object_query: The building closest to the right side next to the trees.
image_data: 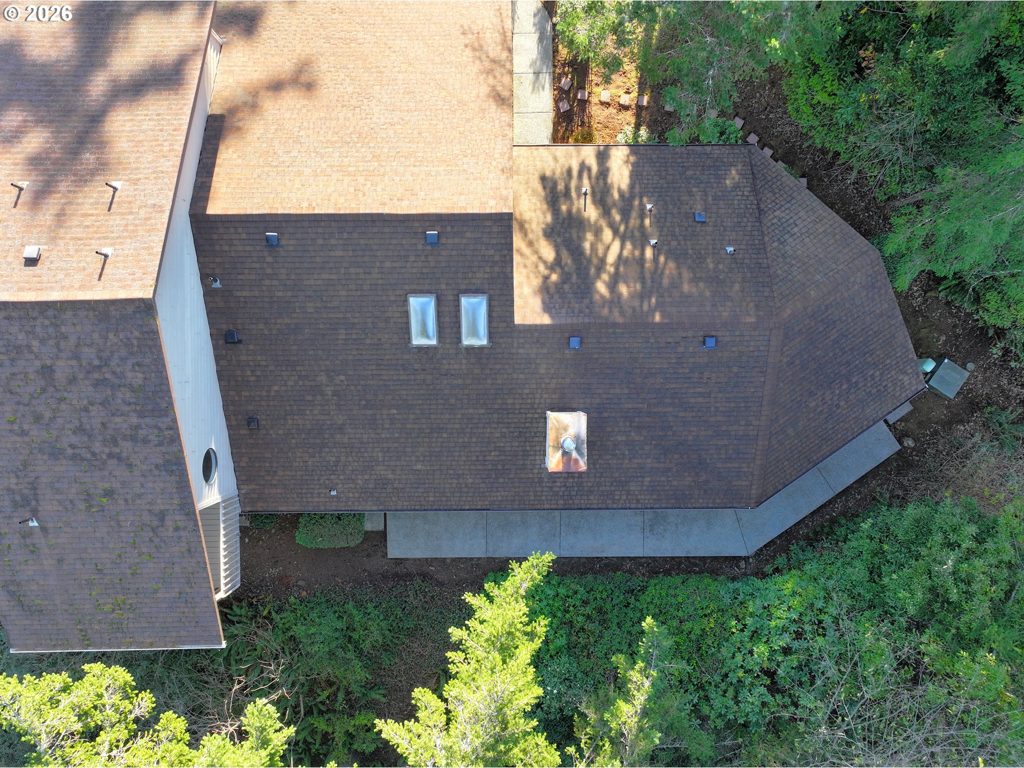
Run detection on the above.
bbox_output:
[190,0,931,516]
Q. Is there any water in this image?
No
